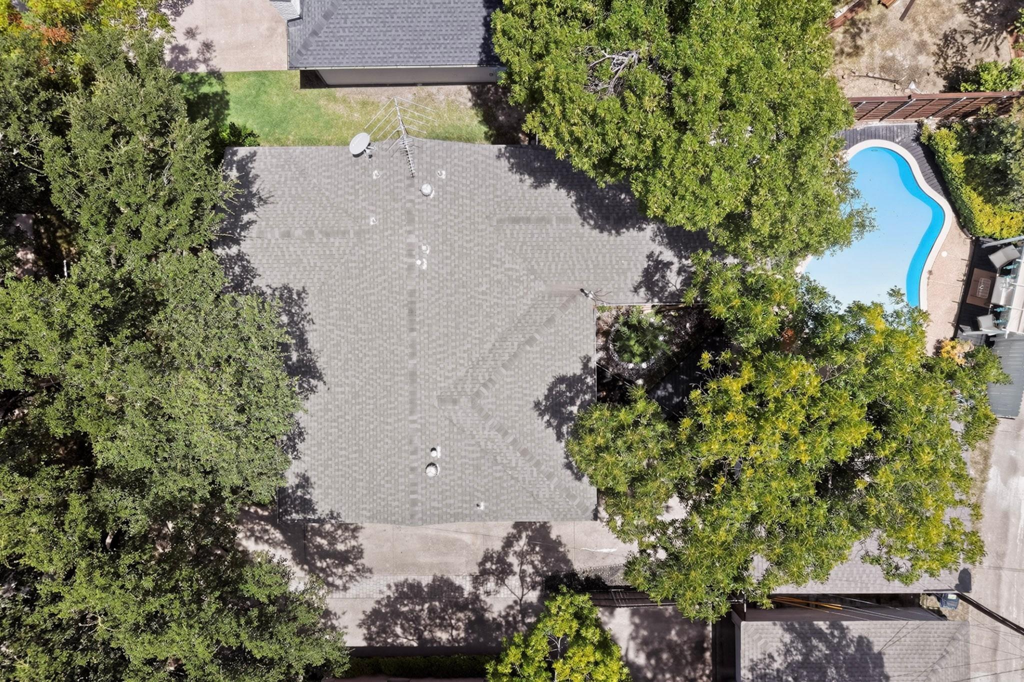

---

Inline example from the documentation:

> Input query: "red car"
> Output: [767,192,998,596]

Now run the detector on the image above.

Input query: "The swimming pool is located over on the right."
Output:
[788,137,954,370]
